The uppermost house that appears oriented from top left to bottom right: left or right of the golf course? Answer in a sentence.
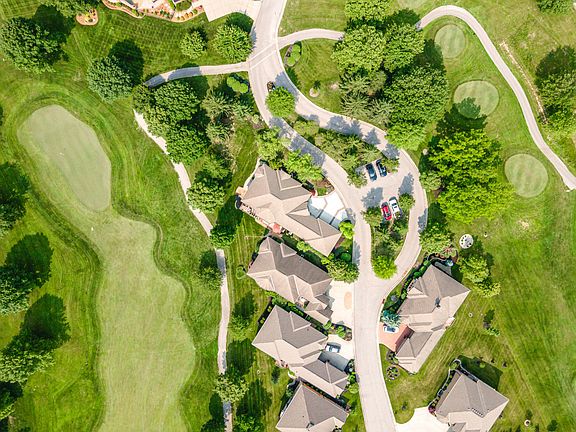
Relative to the golf course, the uppermost house that appears oriented from top left to bottom right lies to the right.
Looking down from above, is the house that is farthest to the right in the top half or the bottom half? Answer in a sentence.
The house that is farthest to the right is in the bottom half of the image.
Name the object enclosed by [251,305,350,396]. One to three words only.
house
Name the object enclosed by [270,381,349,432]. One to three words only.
house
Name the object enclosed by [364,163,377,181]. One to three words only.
vehicle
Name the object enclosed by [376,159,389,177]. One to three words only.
vehicle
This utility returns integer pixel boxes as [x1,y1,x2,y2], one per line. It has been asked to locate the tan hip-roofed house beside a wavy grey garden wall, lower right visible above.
[437,371,509,432]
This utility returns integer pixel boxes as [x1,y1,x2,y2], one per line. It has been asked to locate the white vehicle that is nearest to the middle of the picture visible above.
[389,198,401,217]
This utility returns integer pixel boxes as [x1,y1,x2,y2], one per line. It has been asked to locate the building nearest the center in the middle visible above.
[241,164,341,256]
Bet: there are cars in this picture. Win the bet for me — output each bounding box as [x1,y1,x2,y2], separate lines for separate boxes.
[325,343,341,353]
[381,203,392,220]
[376,159,389,177]
[389,198,401,217]
[364,163,377,181]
